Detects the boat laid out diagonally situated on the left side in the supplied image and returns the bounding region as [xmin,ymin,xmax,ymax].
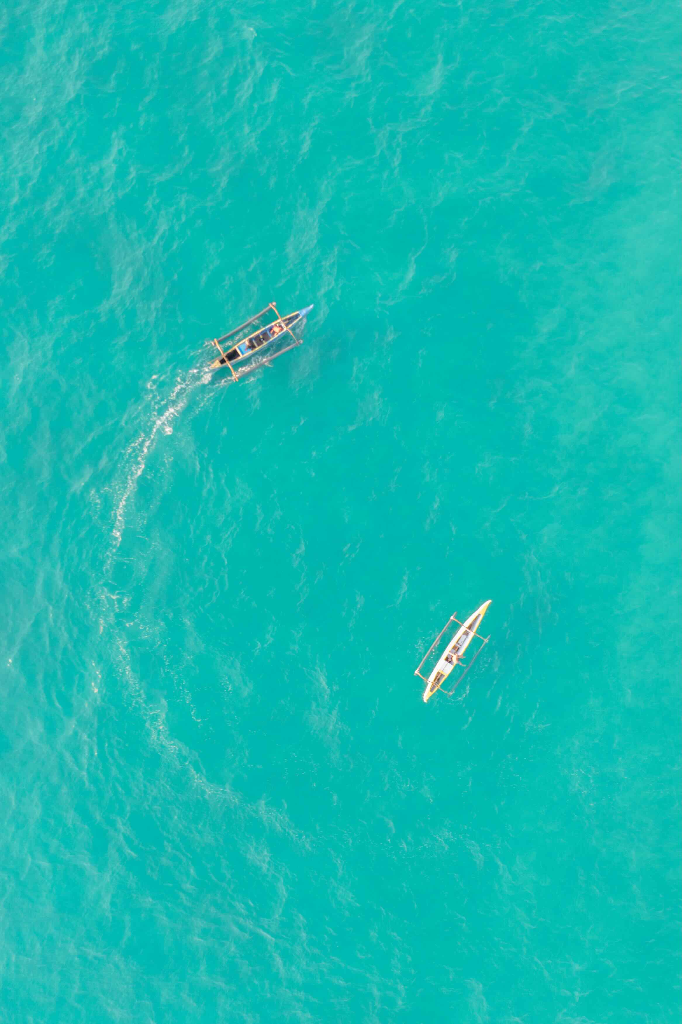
[208,302,314,382]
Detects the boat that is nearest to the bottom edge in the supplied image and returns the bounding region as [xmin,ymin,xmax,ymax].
[414,600,492,702]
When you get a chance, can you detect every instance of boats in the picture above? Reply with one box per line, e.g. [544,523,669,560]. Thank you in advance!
[414,600,492,702]
[208,302,314,382]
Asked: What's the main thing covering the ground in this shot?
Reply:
water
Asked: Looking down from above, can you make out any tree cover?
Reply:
No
